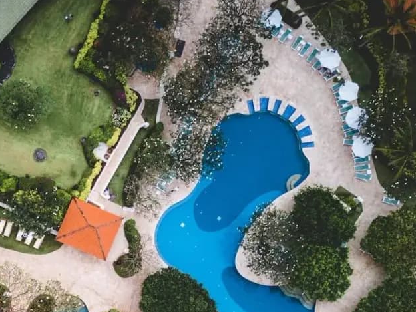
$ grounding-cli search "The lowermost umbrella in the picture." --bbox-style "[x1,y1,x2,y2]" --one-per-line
[352,136,372,156]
